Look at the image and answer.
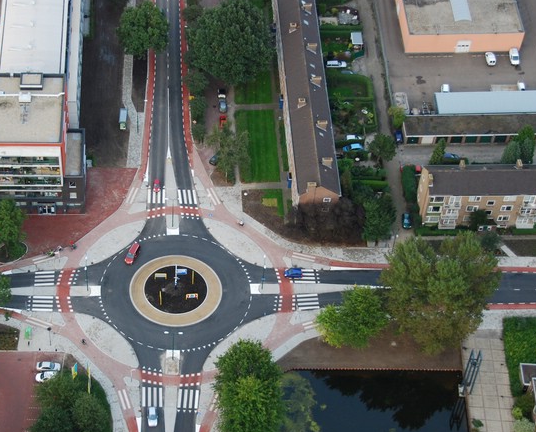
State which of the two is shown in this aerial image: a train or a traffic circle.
traffic circle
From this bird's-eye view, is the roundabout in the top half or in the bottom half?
bottom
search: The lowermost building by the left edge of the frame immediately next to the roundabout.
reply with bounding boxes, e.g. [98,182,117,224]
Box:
[0,72,86,214]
